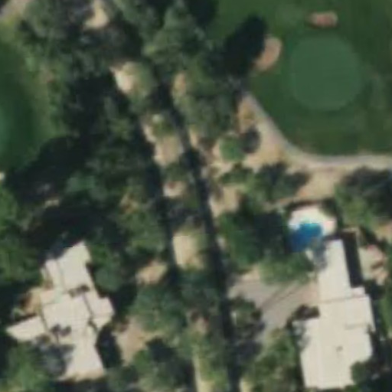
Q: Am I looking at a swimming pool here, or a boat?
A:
swimming pool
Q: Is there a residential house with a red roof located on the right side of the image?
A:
No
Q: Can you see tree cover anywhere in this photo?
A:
Yes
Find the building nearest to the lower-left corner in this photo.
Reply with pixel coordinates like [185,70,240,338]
[7,240,115,380]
